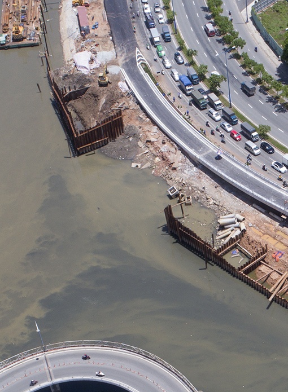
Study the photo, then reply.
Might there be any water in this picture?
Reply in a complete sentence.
Yes, there's water in this view.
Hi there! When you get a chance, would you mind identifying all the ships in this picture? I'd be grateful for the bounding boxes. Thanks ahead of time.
[0,0,43,51]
